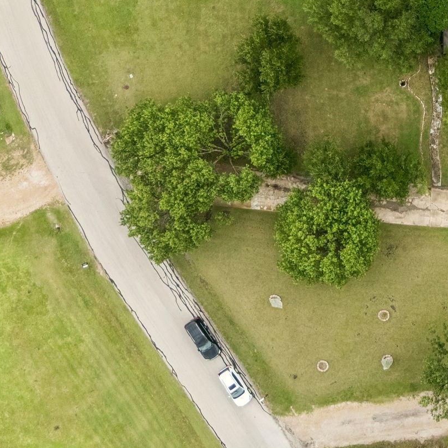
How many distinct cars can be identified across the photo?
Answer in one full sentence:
Altogether the scene contains 2 cars.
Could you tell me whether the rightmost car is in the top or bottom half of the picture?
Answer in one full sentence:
You can find the rightmost car in the bottom half.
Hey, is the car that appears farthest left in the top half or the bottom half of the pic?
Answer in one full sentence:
The car that appears farthest left sits in the bottom half of the picture.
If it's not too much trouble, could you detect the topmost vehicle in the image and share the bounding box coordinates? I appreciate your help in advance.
[183,316,221,359]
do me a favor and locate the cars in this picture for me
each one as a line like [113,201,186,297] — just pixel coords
[217,363,250,406]
[183,316,221,359]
